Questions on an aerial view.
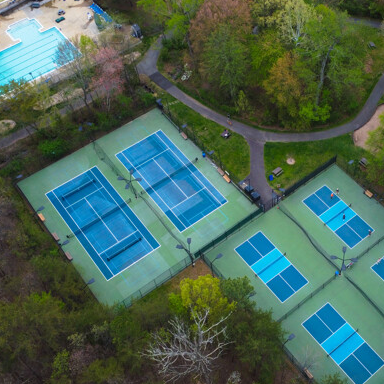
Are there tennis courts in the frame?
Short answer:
Yes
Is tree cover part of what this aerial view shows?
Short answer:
Yes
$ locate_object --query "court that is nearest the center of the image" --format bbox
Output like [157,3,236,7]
[115,128,228,235]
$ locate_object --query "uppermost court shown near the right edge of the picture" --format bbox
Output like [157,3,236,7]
[303,185,374,248]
